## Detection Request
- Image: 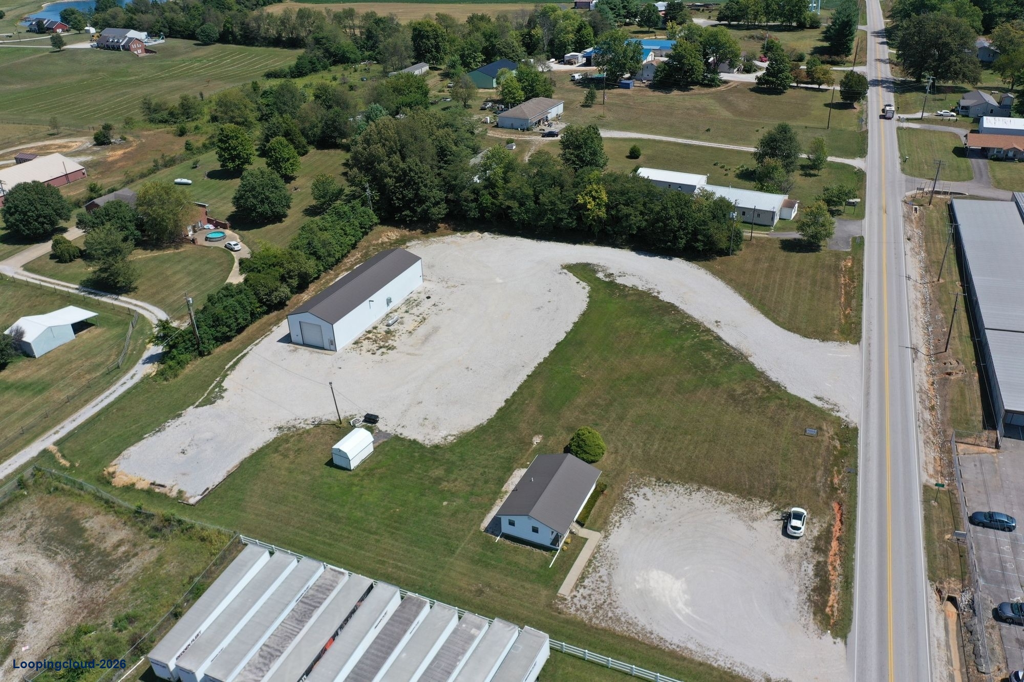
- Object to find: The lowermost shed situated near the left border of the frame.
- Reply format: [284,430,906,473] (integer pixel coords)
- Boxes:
[12,306,91,358]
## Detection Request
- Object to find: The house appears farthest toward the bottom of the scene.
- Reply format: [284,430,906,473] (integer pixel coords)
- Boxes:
[495,454,601,548]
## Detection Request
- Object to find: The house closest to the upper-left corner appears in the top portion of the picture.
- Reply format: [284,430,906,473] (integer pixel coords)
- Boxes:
[25,15,68,32]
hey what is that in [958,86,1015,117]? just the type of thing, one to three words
house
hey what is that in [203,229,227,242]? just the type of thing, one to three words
swimming pool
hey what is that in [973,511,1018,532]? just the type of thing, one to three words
car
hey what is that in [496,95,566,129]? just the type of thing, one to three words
house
